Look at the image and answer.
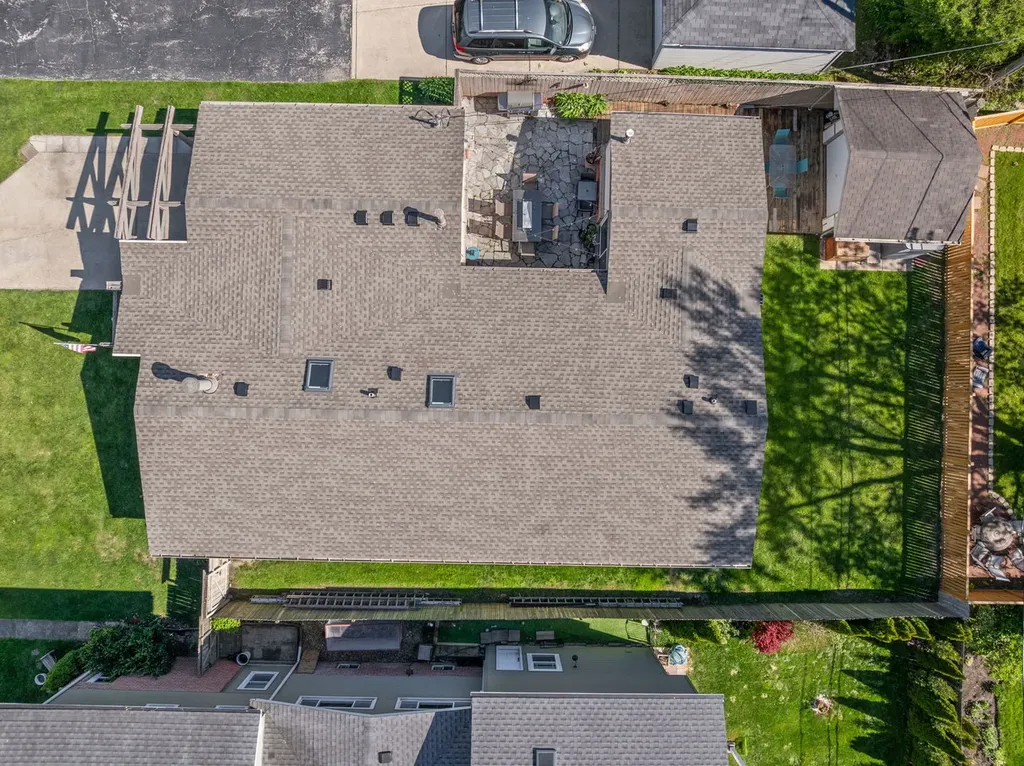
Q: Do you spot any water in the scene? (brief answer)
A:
No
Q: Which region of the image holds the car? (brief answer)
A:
top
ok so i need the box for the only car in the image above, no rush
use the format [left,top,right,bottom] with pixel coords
[452,0,596,62]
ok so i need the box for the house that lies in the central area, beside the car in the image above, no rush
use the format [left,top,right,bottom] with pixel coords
[108,99,769,571]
